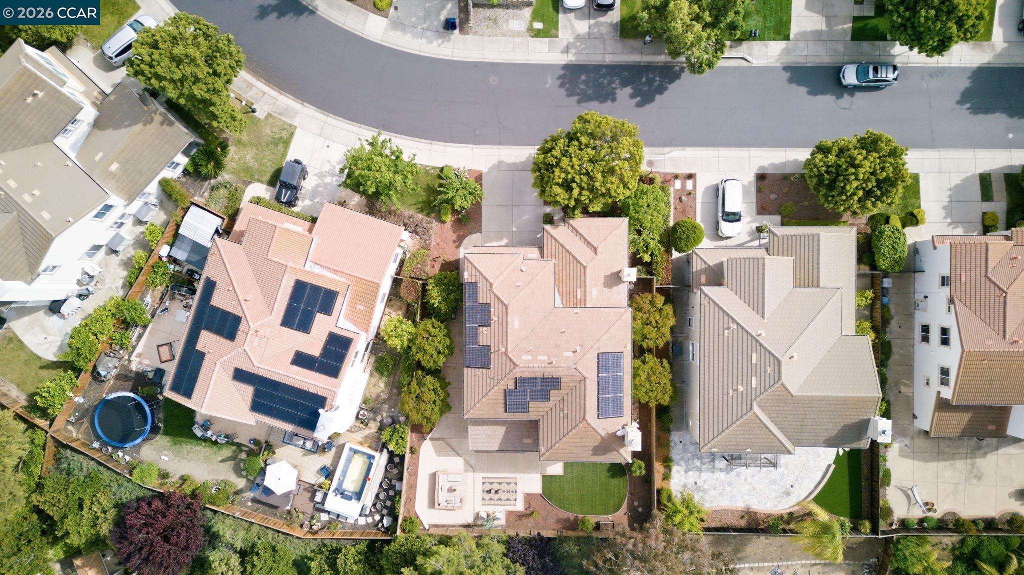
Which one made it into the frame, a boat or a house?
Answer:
house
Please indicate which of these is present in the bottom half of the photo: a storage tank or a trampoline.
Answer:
trampoline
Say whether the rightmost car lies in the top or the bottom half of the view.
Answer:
top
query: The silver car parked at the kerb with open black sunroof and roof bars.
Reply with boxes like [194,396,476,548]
[841,58,902,87]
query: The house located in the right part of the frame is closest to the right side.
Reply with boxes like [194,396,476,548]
[914,227,1024,439]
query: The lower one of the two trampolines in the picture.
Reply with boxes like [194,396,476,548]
[77,391,151,453]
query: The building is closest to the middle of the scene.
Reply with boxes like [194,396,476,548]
[462,216,641,464]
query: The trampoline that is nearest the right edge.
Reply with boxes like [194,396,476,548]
[152,344,171,364]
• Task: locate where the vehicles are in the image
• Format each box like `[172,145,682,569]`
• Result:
[719,177,749,235]
[96,13,158,66]
[269,156,304,207]
[564,0,587,9]
[841,58,902,87]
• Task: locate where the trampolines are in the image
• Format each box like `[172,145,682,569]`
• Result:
[77,391,151,453]
[152,344,171,364]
